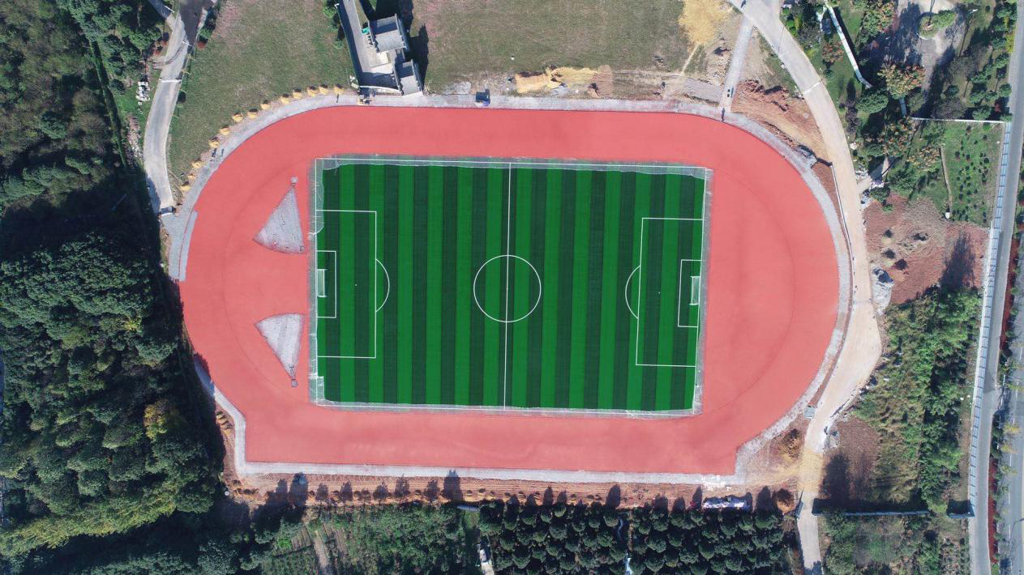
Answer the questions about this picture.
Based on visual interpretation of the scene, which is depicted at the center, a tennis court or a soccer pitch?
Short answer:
soccer pitch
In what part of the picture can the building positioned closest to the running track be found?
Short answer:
top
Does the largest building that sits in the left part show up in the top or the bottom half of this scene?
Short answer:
top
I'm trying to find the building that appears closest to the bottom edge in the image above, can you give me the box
[394,58,423,99]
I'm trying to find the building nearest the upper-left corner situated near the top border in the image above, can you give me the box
[370,12,409,59]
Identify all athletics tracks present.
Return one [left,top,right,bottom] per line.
[179,105,839,476]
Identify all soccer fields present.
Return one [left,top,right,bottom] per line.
[308,154,713,419]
